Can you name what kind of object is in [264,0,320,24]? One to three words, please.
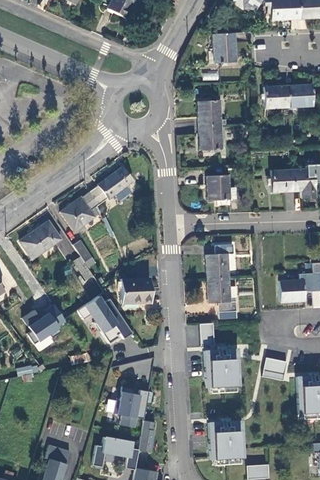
house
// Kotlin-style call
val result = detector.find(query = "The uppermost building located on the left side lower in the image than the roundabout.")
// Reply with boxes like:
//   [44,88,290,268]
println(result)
[97,166,134,202]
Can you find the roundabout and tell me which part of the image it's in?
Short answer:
top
